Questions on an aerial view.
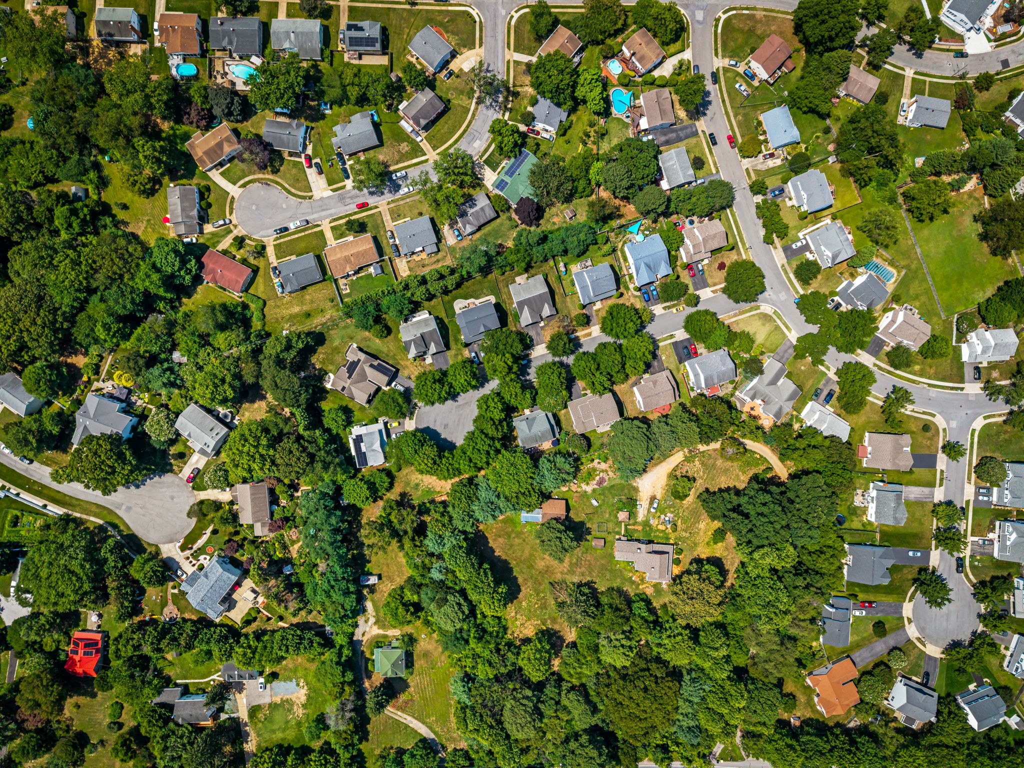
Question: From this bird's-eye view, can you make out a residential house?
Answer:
Yes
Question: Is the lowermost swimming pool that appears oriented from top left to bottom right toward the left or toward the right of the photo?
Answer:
right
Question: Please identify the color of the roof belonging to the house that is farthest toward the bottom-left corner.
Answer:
red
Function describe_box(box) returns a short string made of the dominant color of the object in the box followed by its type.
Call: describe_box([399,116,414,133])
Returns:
white camper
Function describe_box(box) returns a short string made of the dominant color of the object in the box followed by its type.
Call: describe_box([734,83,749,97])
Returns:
white vehicle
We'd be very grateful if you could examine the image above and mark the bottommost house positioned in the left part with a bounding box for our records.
[161,685,213,724]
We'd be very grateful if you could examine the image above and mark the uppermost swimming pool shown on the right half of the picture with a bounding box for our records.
[608,57,623,74]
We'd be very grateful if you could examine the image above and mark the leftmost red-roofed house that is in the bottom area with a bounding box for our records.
[65,630,107,680]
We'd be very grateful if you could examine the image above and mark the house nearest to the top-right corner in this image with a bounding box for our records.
[937,0,1003,38]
